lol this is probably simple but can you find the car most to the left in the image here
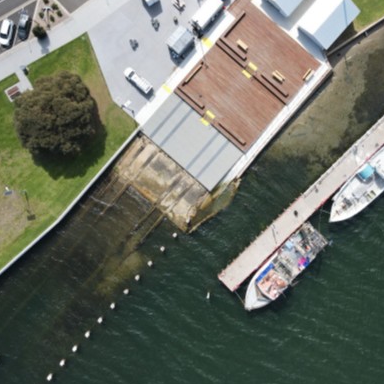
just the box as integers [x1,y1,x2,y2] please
[0,18,17,49]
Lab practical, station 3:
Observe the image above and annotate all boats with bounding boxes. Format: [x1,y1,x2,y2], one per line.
[329,149,384,223]
[247,223,327,311]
